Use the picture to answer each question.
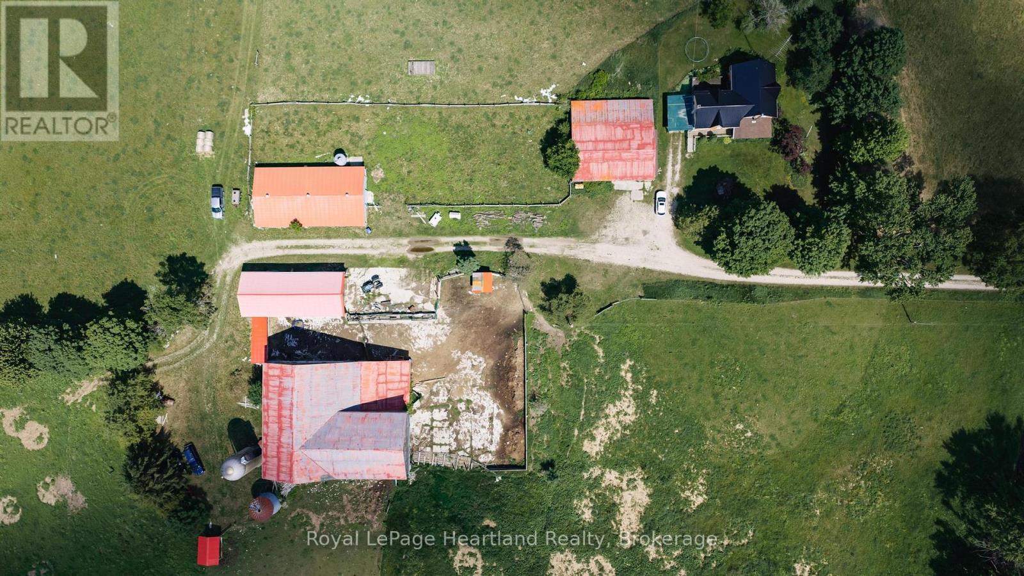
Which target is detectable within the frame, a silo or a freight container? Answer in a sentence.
Of the two, only a silo appears.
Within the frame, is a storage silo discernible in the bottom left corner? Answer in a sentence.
Yes, the scene does show a storage silo in the bottom left corner.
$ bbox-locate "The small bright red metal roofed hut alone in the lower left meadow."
[197,531,224,566]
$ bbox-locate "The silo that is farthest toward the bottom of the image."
[247,489,281,521]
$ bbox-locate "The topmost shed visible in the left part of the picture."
[248,166,367,227]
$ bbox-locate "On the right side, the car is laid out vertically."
[654,190,667,216]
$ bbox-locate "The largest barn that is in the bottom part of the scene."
[262,360,411,486]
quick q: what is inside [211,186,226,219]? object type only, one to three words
vehicle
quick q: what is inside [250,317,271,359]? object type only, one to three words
shed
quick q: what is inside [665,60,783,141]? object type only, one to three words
house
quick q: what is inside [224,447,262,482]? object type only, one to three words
silo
